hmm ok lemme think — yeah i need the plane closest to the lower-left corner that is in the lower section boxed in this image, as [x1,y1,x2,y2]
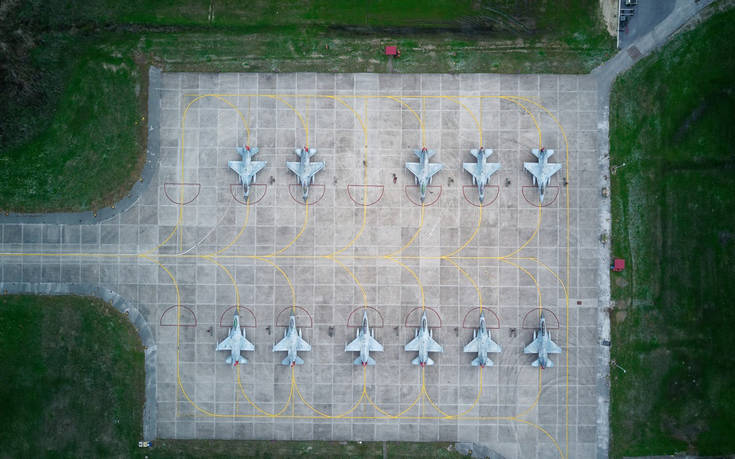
[217,310,256,367]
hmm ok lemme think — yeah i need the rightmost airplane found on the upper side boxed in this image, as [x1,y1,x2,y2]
[523,147,562,203]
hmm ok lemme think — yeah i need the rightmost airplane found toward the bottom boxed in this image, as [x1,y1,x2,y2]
[523,313,562,370]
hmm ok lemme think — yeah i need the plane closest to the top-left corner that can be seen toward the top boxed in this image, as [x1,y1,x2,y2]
[228,145,266,201]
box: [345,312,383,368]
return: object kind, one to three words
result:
airplane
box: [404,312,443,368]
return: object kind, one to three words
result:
airplane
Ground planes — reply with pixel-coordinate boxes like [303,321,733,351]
[523,313,562,370]
[217,310,256,367]
[287,145,325,202]
[463,312,502,368]
[404,312,443,368]
[228,145,266,201]
[273,311,312,368]
[405,145,444,201]
[523,147,562,203]
[345,312,383,368]
[462,146,501,205]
